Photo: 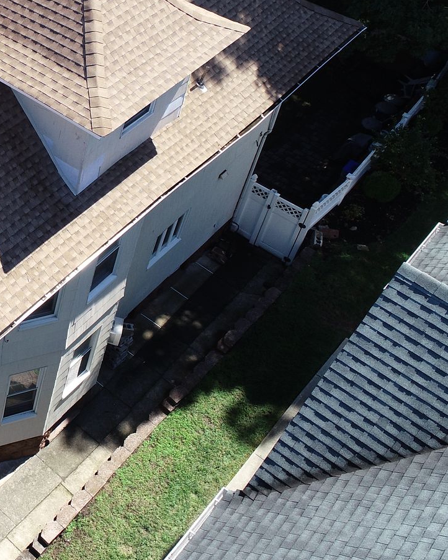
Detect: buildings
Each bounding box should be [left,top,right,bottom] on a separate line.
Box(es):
[0,0,371,465]
[181,229,448,560]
